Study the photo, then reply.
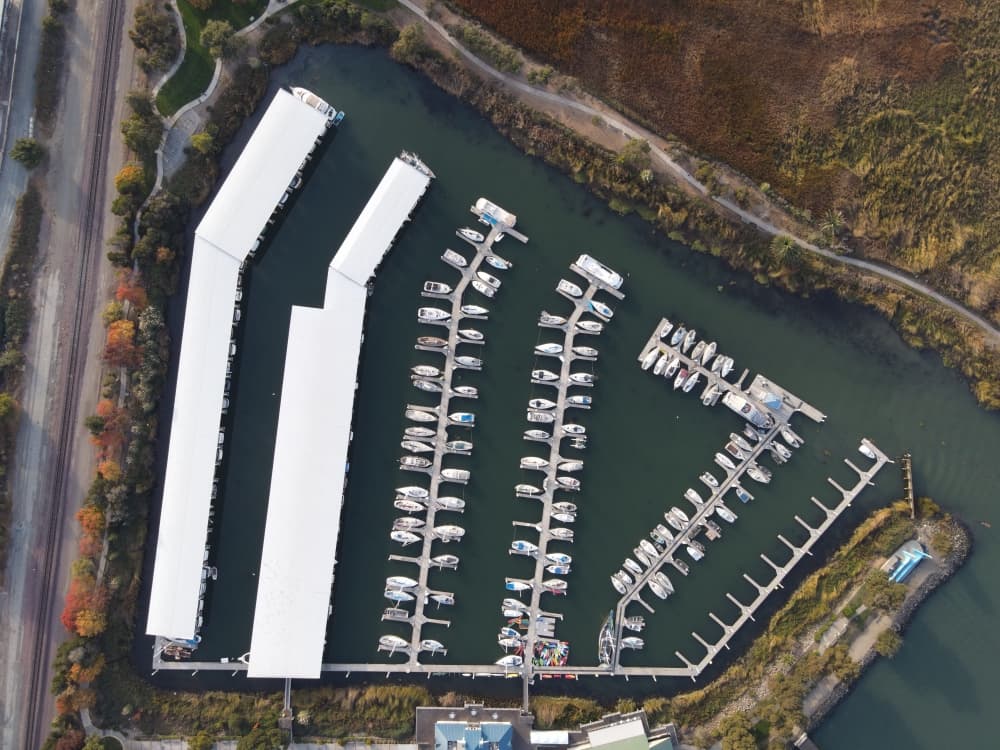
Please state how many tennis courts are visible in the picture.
zero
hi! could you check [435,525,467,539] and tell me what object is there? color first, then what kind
white boat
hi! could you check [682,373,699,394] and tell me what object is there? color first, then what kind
white boat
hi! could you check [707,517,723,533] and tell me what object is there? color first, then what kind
gray boat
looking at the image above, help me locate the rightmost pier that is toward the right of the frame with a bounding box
[897,453,918,505]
